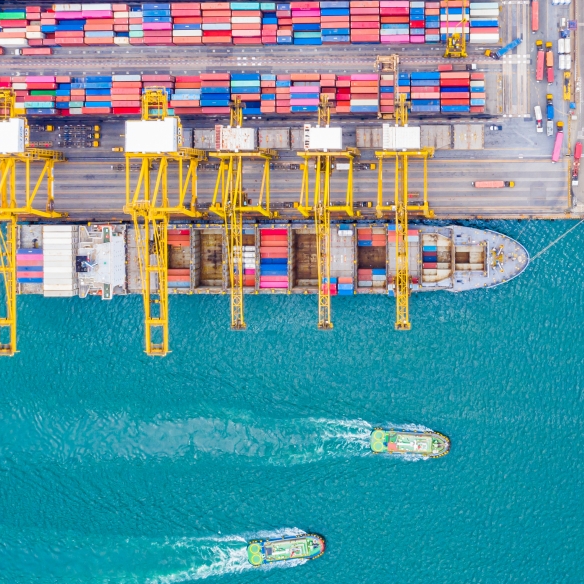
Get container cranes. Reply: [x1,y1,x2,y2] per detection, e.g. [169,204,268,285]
[292,93,363,330]
[203,93,283,331]
[119,88,210,356]
[367,92,434,331]
[439,0,466,57]
[374,58,402,119]
[0,89,71,356]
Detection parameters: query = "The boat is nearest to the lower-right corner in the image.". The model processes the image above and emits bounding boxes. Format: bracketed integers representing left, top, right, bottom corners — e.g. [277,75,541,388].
[369,429,451,458]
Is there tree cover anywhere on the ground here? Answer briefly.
No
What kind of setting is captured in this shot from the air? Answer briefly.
port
